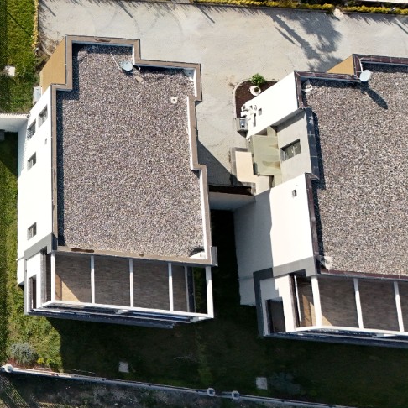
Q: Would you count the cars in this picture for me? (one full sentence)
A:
The picture shows no cars.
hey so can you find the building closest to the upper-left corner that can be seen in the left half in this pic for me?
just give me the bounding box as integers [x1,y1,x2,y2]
[16,34,218,325]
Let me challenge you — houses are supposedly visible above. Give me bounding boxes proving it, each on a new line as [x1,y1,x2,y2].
[16,34,218,325]
[227,54,408,347]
